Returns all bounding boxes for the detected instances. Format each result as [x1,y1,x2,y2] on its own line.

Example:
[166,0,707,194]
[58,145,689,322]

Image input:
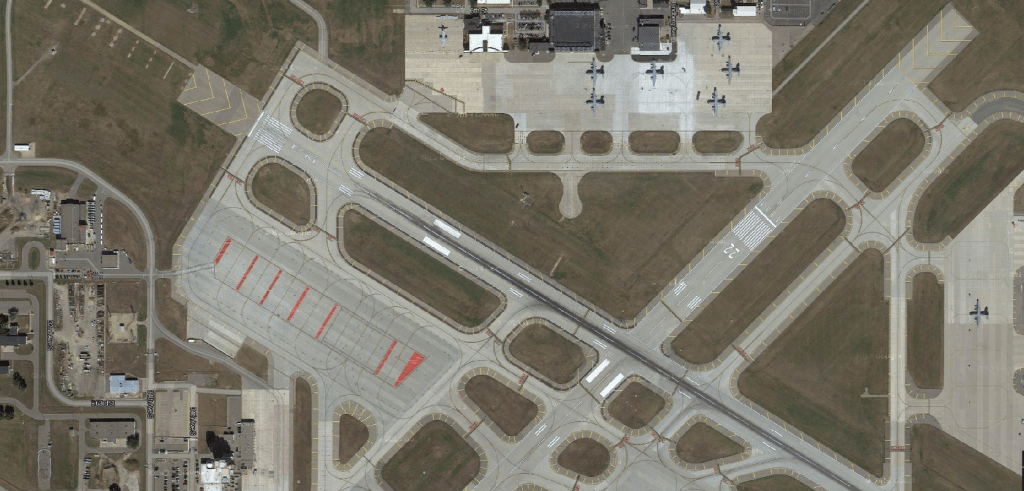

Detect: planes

[586,88,605,115]
[646,58,666,85]
[708,87,727,114]
[721,56,741,83]
[713,25,732,52]
[586,58,605,85]
[438,25,449,47]
[971,299,990,326]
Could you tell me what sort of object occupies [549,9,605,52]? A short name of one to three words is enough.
hangar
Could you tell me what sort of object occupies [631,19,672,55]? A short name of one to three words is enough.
building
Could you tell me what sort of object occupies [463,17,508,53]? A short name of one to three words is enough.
hangar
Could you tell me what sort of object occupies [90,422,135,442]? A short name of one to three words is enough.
building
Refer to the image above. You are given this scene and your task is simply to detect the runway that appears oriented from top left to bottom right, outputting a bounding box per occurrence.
[247,110,885,491]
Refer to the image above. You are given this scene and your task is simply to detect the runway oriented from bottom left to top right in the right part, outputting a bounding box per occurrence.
[471,65,917,491]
